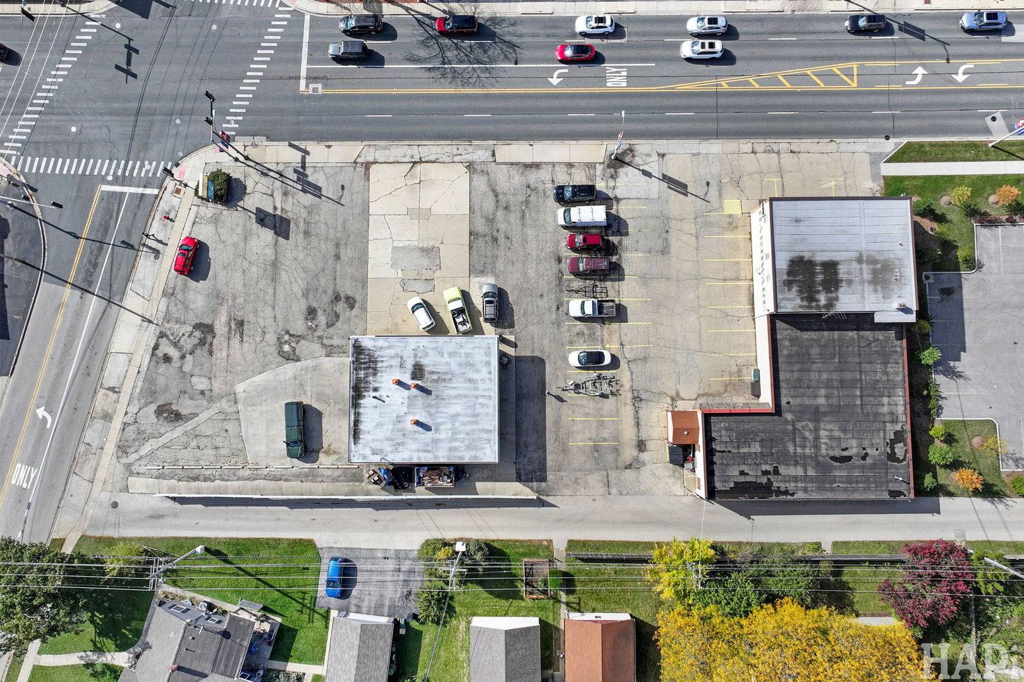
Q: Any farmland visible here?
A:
No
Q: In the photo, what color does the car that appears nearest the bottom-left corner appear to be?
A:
blue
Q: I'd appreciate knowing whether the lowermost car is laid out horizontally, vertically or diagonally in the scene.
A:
vertically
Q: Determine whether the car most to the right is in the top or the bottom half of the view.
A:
top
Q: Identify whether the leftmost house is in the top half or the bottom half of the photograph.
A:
bottom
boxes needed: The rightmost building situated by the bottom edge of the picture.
[563,613,637,682]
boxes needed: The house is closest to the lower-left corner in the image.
[122,603,263,682]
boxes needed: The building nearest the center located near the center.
[348,334,501,466]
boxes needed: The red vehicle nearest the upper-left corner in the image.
[175,236,199,275]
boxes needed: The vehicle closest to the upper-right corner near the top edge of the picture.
[959,10,1006,33]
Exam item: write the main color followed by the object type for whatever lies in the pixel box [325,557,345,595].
blue car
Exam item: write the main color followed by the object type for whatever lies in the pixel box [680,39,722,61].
white car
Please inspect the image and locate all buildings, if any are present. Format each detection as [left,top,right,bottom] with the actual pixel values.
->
[122,603,263,682]
[693,197,918,500]
[348,334,501,466]
[325,612,395,682]
[563,613,637,682]
[469,618,543,682]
